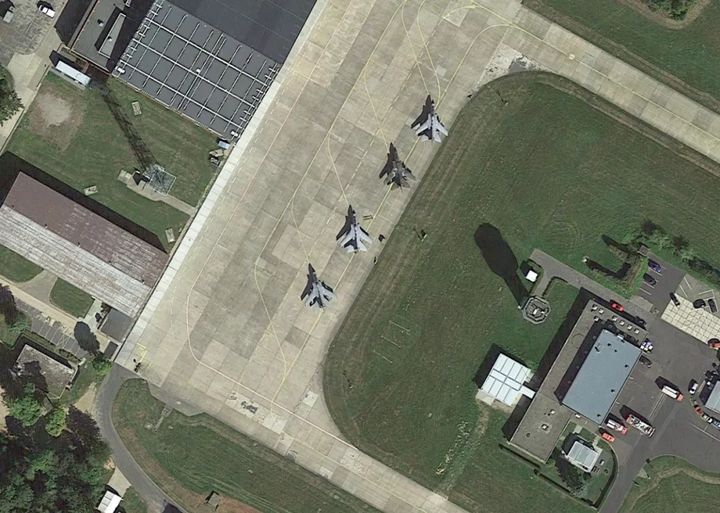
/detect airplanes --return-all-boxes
[304,268,335,312]
[418,100,450,143]
[340,210,371,254]
[382,148,413,192]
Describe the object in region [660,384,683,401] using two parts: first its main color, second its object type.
white vehicle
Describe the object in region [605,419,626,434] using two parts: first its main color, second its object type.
white vehicle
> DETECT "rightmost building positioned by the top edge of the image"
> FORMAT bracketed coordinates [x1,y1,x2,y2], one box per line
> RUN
[112,0,317,145]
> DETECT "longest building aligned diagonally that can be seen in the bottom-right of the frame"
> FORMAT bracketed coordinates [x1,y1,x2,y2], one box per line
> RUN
[507,301,650,462]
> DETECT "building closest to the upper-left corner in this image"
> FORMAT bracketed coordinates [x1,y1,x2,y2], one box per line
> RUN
[72,0,150,73]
